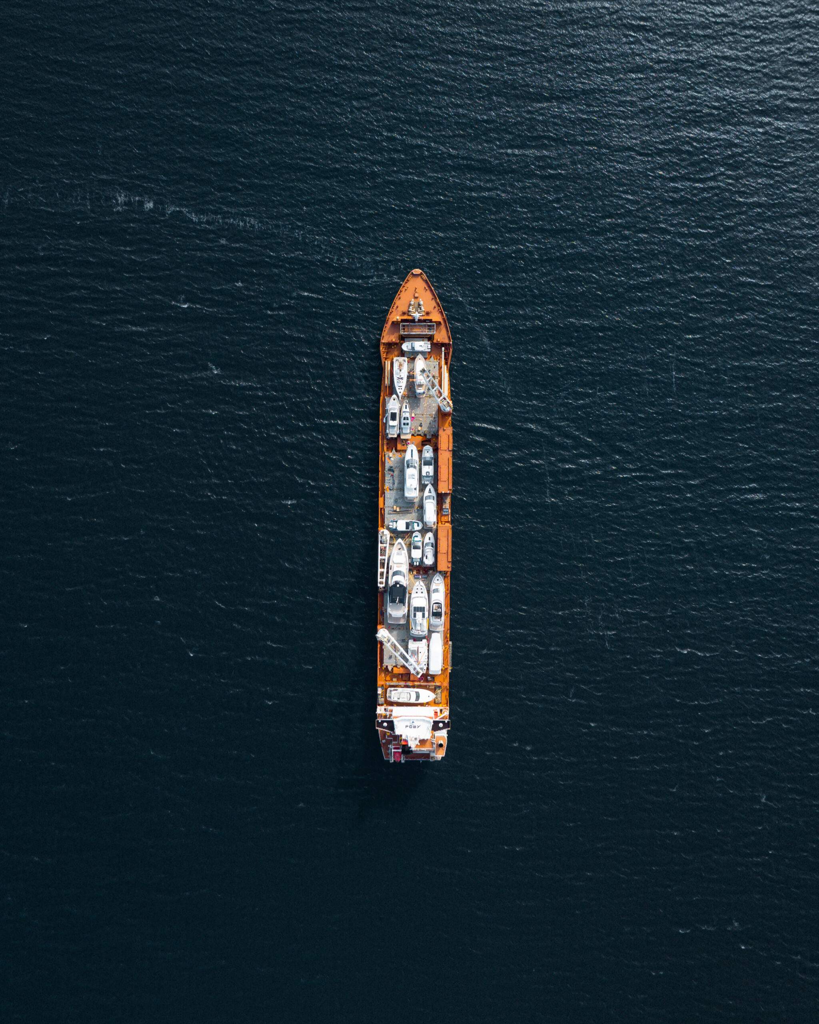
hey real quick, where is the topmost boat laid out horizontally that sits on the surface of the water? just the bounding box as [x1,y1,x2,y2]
[402,341,431,354]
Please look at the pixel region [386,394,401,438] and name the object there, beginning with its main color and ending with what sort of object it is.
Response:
white boat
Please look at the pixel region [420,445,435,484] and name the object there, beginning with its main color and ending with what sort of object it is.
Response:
white boat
